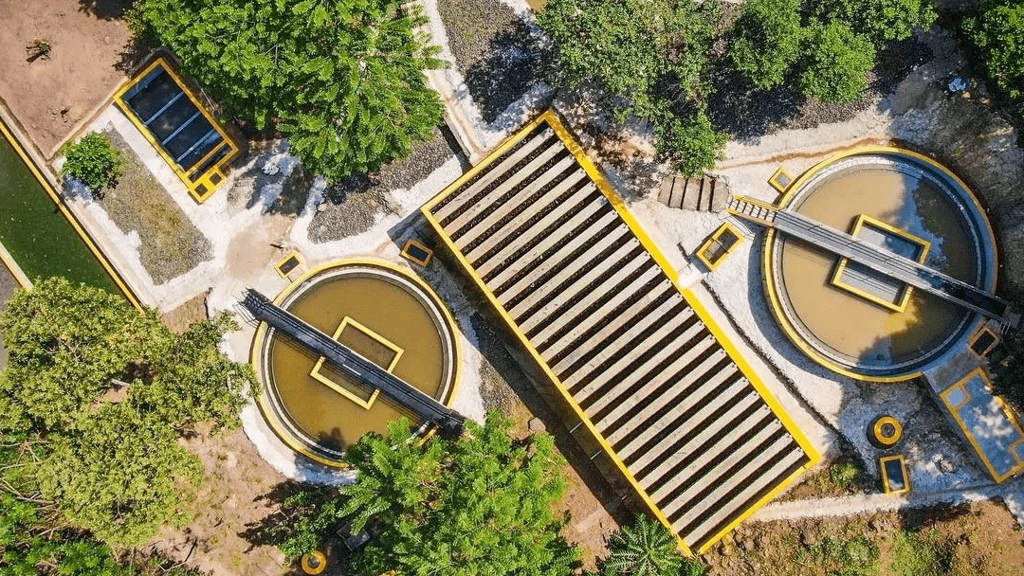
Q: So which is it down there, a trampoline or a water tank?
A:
water tank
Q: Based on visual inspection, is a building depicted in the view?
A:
No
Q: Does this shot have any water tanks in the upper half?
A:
Yes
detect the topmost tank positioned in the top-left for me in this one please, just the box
[114,58,245,204]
